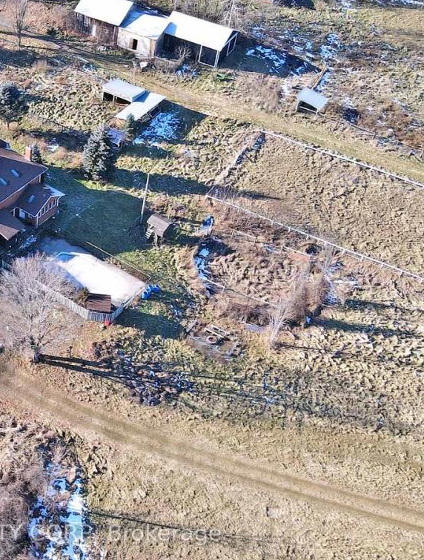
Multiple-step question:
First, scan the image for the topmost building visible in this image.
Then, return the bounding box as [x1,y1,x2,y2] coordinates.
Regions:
[72,0,246,67]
